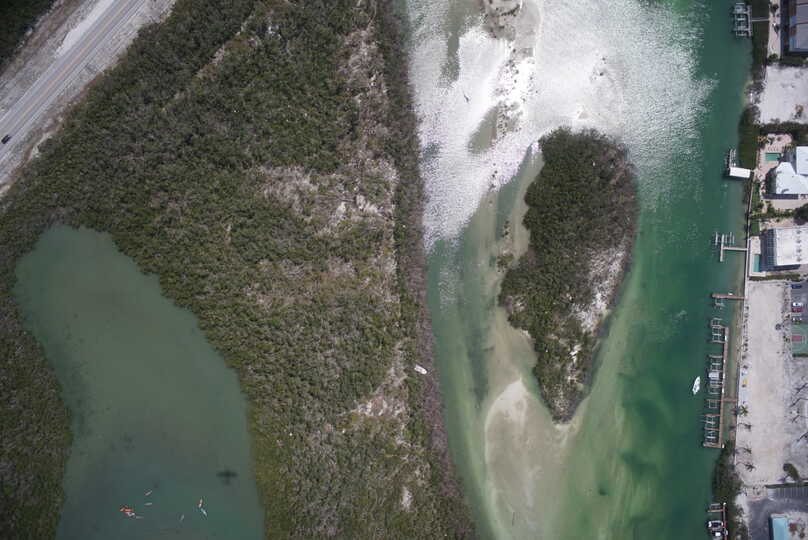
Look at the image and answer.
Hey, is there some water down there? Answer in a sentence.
Yes, there is water in the image.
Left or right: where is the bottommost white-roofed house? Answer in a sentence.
The bottommost white-roofed house appears in the right half of the scene.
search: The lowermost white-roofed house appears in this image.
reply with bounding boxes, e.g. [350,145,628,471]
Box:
[776,227,808,264]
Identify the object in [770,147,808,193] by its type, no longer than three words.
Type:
house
